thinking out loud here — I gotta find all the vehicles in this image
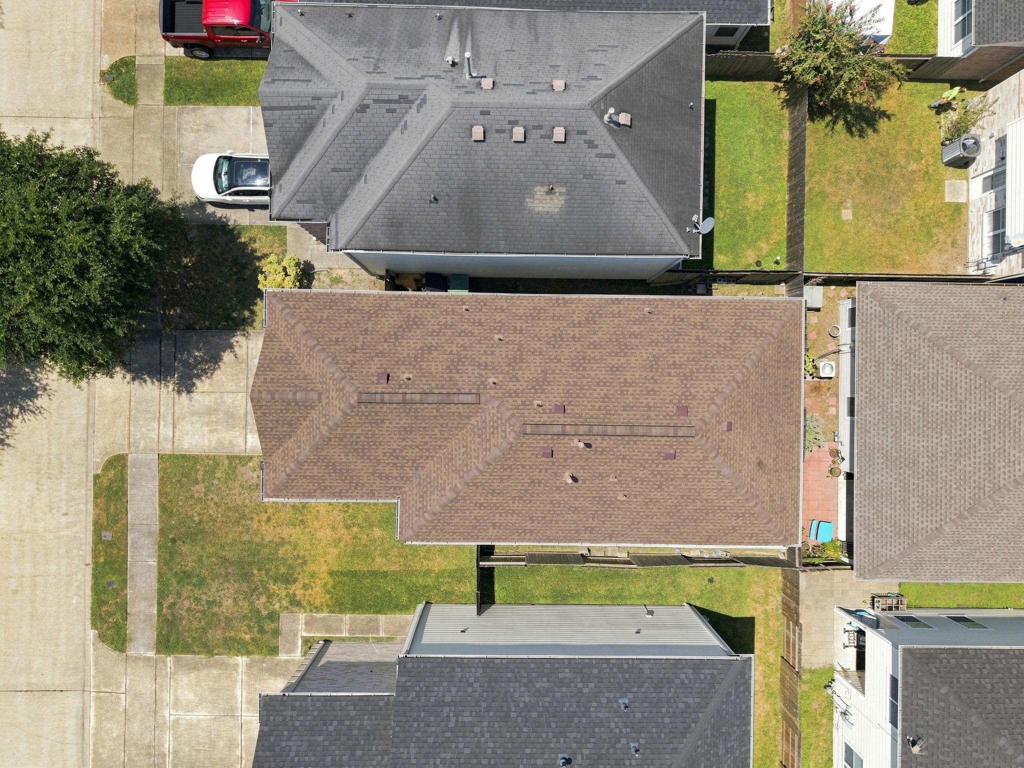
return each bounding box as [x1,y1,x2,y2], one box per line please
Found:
[156,0,308,55]
[192,148,272,207]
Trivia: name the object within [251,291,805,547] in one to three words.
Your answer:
house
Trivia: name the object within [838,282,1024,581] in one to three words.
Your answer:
house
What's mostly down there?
buildings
